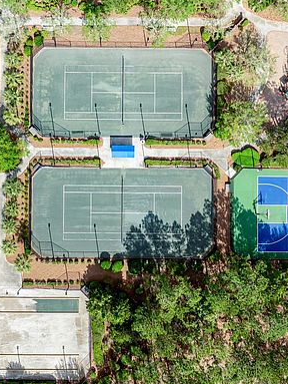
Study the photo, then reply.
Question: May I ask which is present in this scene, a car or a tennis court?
tennis court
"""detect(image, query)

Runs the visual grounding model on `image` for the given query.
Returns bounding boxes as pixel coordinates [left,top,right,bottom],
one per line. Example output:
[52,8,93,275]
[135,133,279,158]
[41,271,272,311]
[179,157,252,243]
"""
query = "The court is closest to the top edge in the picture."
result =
[31,47,214,136]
